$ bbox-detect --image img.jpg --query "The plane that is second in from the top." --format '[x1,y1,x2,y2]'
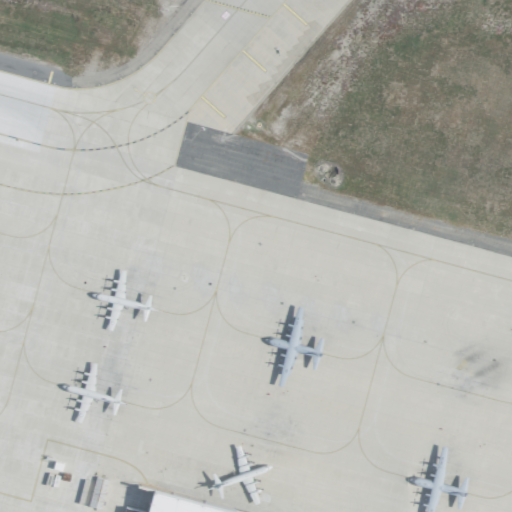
[266,306,326,386]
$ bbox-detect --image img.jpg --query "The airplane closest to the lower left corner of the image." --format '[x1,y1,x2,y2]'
[62,363,128,424]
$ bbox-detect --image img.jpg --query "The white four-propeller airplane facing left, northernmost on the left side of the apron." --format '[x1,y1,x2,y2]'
[92,270,158,330]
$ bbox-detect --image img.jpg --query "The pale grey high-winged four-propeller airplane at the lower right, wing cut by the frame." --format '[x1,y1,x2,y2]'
[410,447,470,512]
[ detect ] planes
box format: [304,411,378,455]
[92,270,158,330]
[410,447,470,512]
[266,306,326,386]
[62,363,128,424]
[210,446,274,506]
